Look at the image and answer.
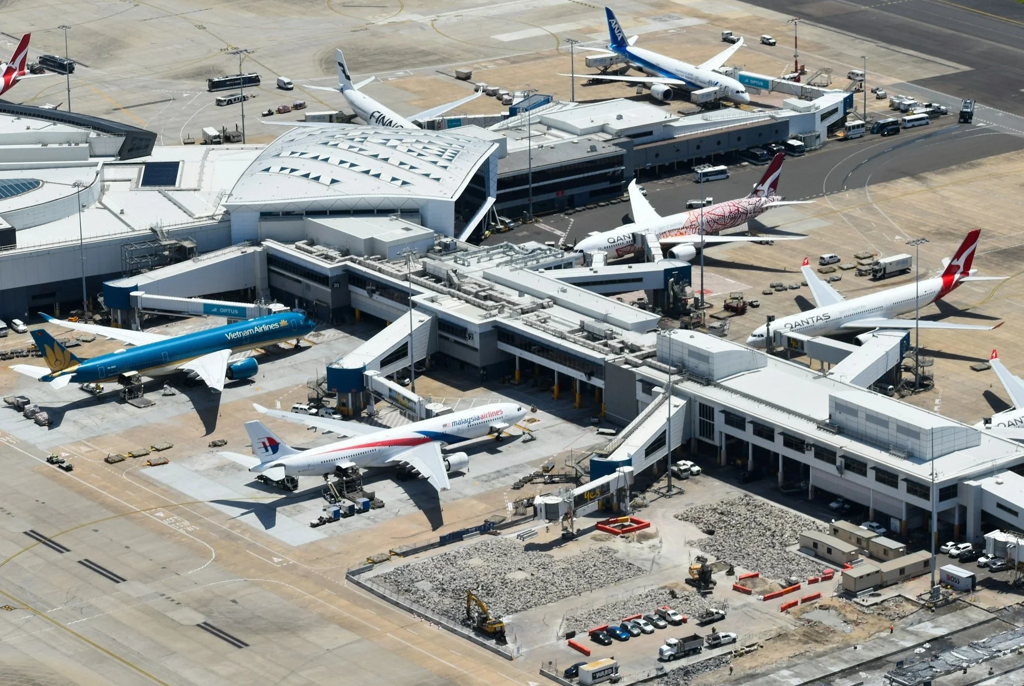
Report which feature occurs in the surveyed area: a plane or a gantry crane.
plane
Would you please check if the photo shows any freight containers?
Yes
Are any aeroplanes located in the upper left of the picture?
Yes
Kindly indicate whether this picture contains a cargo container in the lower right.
Yes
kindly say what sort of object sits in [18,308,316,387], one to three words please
airplane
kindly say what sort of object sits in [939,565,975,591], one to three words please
shipping container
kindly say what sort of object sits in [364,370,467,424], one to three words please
jet bridge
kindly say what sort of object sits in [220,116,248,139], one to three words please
work vehicle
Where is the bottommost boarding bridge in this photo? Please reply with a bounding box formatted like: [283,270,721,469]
[977,532,1024,583]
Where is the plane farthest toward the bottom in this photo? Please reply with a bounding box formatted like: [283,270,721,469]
[218,398,525,491]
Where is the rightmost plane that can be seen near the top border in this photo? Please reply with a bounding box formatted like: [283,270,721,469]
[560,8,751,105]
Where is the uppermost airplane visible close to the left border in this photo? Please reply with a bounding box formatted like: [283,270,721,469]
[0,33,53,90]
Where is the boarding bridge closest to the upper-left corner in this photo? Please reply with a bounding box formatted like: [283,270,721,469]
[126,292,292,331]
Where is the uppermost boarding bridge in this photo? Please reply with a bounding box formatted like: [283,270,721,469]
[712,65,825,105]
